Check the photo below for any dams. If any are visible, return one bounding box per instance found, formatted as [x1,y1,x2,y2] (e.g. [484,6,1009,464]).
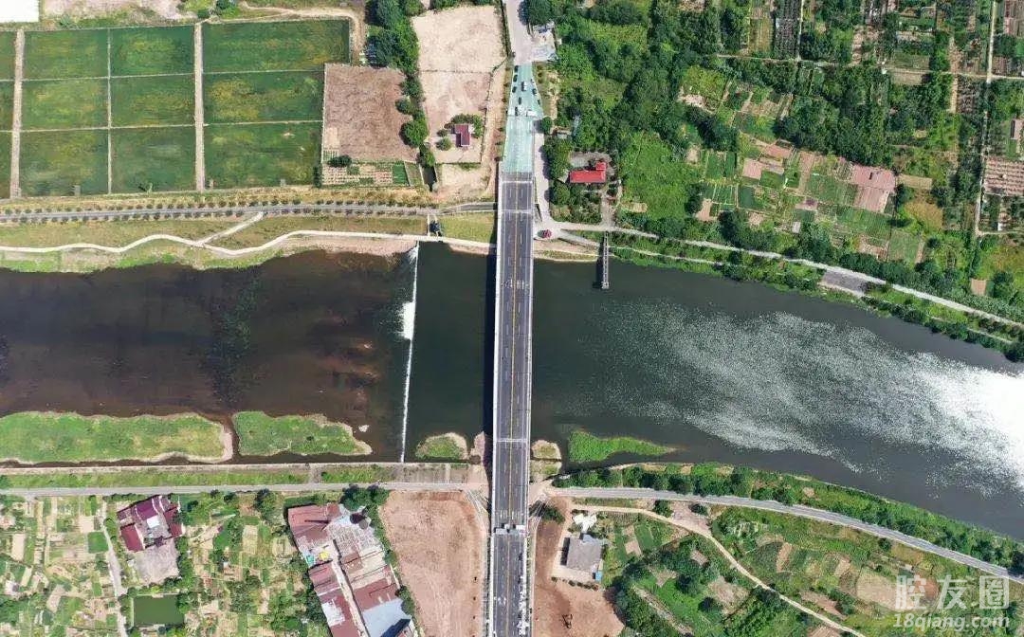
[383,243,419,463]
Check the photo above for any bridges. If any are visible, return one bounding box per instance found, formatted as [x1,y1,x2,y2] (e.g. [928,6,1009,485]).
[490,173,534,637]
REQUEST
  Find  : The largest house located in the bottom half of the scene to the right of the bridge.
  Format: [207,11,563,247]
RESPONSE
[567,536,601,572]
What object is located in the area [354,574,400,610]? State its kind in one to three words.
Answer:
shed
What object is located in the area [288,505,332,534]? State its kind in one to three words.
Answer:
shed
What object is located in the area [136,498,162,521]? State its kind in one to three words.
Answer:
house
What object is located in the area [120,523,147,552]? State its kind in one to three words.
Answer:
house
